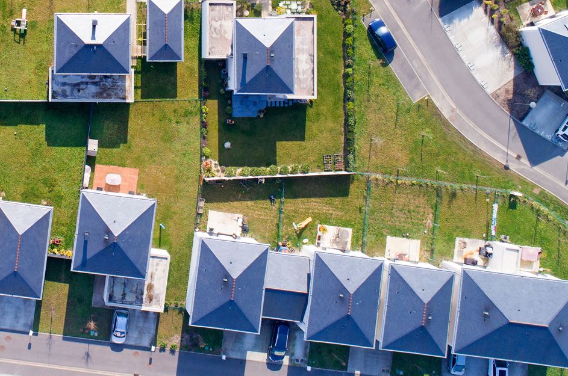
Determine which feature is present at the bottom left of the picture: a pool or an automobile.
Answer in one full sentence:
The one visible at the bottom left of the picture is an automobile.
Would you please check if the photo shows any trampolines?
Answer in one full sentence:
No, the picture doesn't show any trampoline.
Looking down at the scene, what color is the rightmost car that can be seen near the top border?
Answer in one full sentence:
From above, the rightmost car that can be seen near the top border appears blue.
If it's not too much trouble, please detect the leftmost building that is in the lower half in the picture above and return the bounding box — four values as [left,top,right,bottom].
[0,201,53,299]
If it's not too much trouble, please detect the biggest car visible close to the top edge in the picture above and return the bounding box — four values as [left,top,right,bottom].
[369,18,396,54]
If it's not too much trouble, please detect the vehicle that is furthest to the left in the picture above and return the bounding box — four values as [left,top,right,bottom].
[111,309,130,344]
